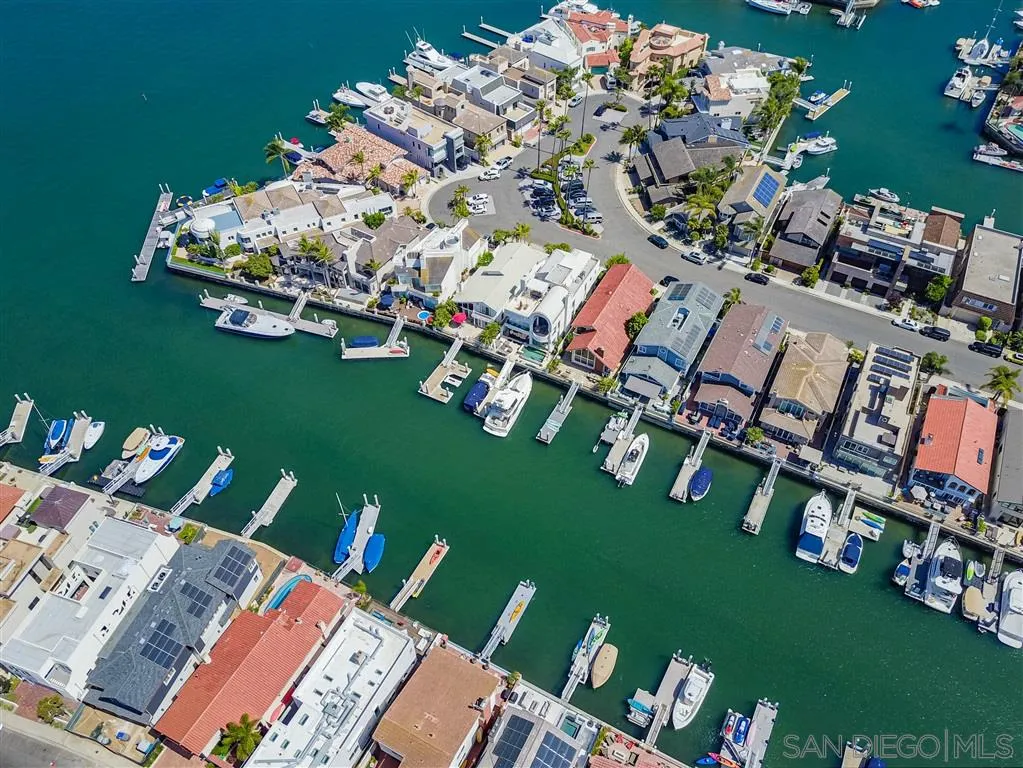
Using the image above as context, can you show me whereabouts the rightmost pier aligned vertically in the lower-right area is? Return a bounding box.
[978,543,1009,633]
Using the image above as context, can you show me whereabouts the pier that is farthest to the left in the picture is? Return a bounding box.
[0,392,34,442]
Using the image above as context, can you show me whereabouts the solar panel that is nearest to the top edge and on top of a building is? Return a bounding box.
[752,172,780,208]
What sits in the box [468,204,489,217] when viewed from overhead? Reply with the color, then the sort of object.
white vehicle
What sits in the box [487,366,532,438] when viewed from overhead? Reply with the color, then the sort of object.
white boat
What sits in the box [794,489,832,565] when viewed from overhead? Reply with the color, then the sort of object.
white boat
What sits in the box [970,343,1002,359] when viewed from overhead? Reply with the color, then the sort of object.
black car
